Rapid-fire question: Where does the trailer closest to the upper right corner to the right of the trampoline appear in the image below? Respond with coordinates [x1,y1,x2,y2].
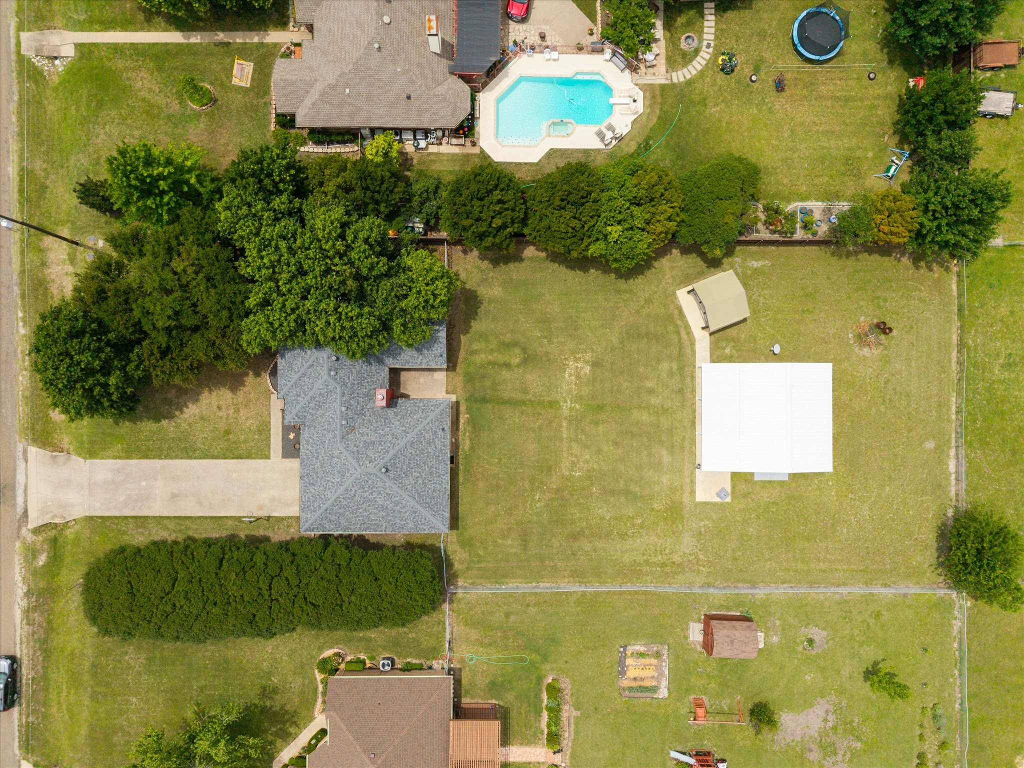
[980,38,1024,72]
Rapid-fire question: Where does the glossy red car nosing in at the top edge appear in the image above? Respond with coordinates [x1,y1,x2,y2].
[504,0,530,22]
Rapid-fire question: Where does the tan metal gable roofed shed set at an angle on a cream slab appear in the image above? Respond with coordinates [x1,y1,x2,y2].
[683,270,750,334]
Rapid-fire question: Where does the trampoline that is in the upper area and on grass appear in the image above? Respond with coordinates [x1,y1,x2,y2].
[789,0,860,70]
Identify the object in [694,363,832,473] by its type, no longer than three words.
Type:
barn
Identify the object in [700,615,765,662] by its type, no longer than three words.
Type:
shed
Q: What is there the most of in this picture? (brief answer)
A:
grass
